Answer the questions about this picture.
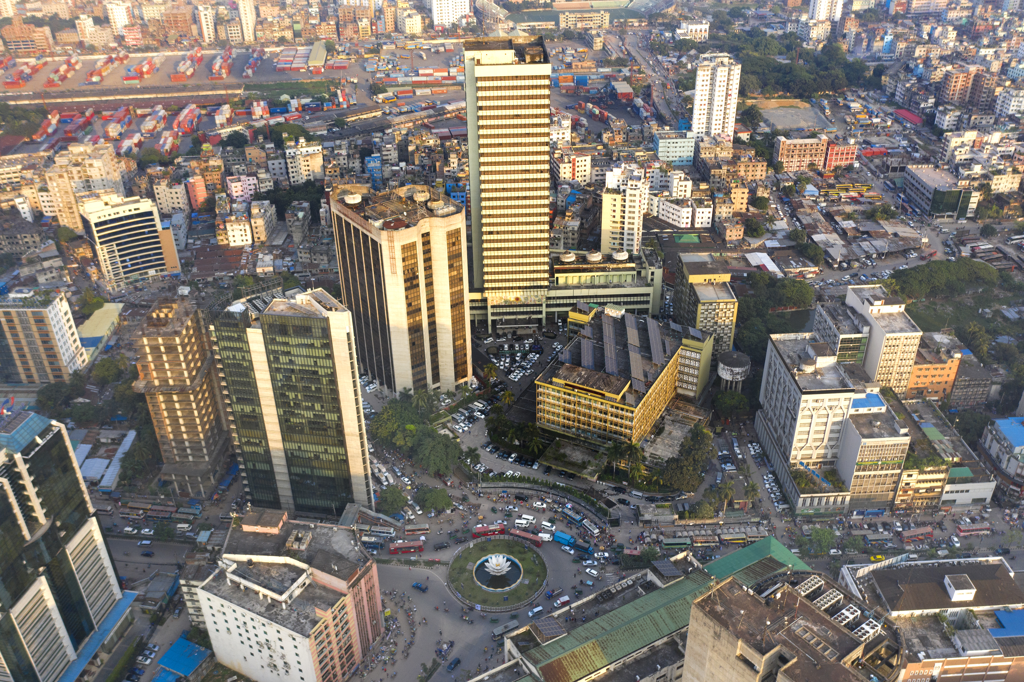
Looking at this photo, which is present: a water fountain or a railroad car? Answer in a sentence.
This aerial view contains a water fountain.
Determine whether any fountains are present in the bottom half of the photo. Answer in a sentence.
Yes, the scene does show a fountain in the bottom half of the photo.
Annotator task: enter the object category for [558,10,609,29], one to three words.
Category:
building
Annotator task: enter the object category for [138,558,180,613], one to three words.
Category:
shed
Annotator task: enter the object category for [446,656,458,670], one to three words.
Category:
vehicle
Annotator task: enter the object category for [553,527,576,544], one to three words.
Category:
vehicle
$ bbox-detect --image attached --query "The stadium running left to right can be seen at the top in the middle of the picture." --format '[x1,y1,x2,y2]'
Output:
[470,0,706,33]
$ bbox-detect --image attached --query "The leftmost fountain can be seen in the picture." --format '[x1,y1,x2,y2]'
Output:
[471,551,524,593]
